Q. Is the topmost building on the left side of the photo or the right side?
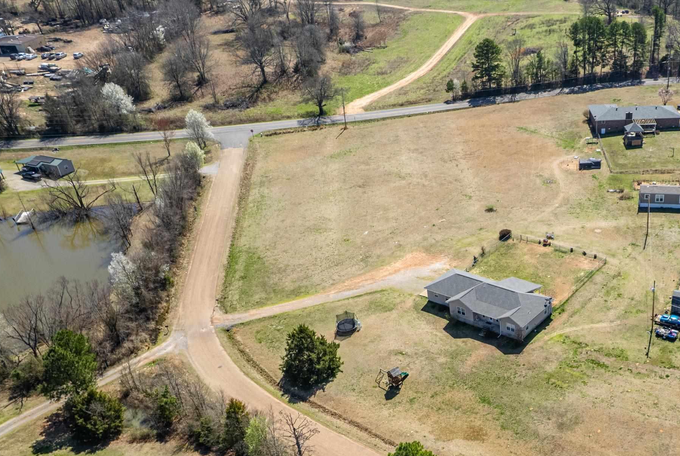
left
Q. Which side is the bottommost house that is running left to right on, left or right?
right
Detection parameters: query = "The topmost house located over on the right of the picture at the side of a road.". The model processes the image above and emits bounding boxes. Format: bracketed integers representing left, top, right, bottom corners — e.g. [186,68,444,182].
[591,98,680,132]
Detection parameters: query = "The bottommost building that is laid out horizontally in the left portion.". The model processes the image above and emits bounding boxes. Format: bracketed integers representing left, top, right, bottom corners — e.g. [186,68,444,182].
[5,155,71,180]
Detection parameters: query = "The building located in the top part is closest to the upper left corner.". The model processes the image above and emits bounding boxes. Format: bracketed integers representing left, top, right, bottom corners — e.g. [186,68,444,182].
[0,28,45,54]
